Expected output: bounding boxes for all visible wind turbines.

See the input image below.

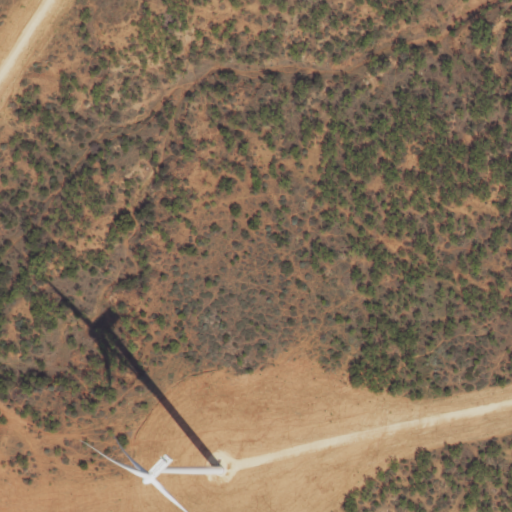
[78,436,225,512]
